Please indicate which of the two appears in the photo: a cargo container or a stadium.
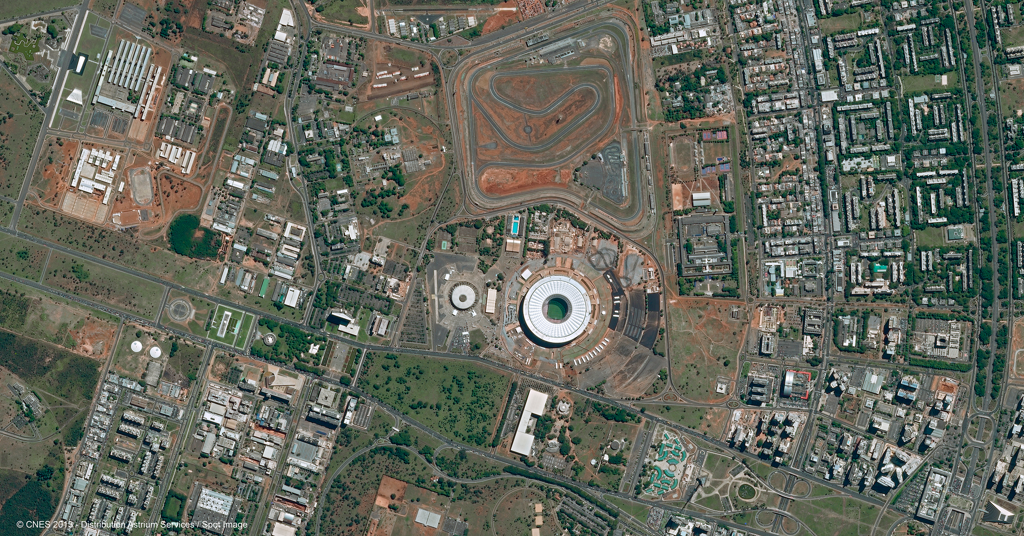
stadium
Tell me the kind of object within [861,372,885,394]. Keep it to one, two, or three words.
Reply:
building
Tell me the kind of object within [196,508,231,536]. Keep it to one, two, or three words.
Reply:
building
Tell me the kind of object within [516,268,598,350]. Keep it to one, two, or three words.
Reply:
stadium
